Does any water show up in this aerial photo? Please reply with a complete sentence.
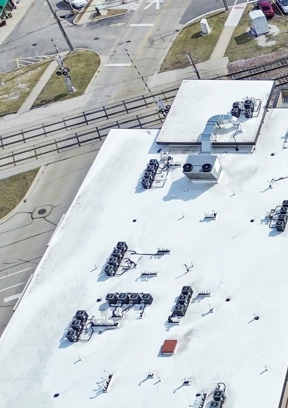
No, the scene doesn't show any water.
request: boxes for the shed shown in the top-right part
[247,6,274,35]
